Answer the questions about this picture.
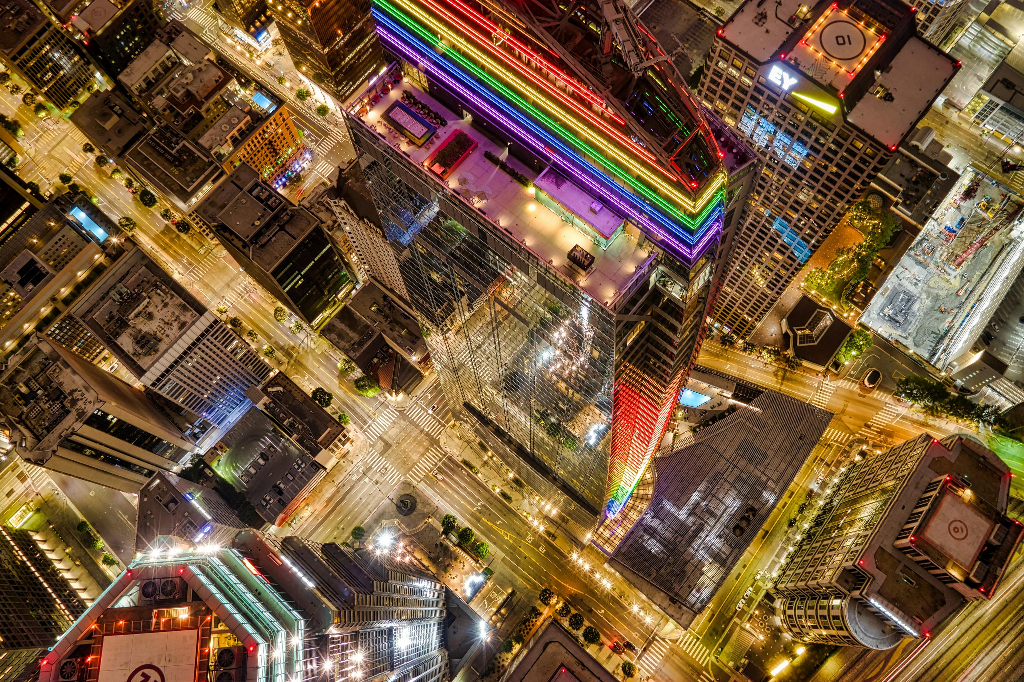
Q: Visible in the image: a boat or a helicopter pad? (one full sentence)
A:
Of the two, only a helicopter pad appears.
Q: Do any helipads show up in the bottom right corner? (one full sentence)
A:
Yes, I can see a helipad in the bottom right corner.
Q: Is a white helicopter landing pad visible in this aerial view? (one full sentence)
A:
No, there isn't any white helicopter landing pad down there.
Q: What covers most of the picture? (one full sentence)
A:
What you mostly see from above here is buildings.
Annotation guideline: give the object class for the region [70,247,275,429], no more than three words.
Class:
building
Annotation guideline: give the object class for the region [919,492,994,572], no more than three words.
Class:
helipad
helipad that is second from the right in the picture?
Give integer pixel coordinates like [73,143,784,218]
[801,4,887,77]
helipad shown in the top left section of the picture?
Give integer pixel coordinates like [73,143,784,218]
[78,0,125,39]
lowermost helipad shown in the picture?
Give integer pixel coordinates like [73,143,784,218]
[98,628,201,682]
